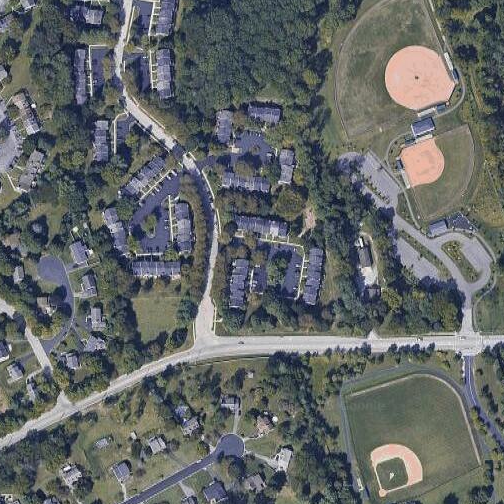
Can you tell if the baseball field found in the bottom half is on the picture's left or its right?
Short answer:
right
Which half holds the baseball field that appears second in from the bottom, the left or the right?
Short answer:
right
